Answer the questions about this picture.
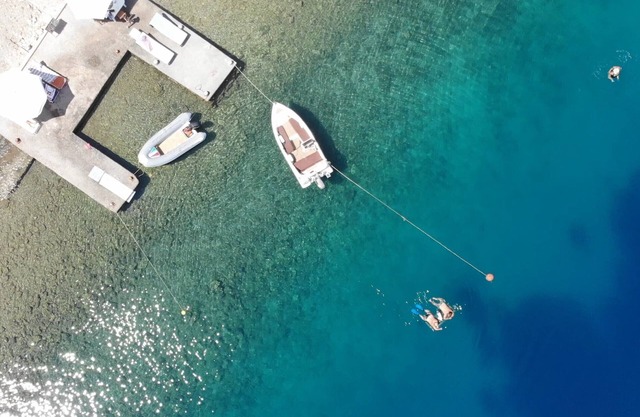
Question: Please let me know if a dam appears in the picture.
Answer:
No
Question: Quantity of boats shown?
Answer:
2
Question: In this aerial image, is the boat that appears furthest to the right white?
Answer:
Yes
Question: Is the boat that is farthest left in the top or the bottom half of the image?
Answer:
top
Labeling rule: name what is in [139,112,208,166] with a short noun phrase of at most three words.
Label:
boat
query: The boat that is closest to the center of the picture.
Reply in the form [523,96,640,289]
[271,101,334,191]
